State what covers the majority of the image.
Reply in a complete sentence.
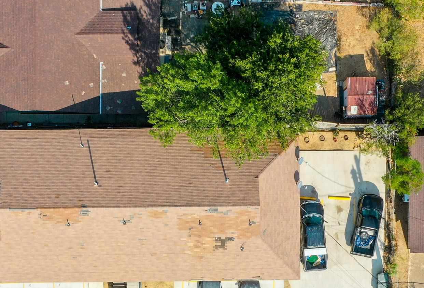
What you mostly see from above here is buildings.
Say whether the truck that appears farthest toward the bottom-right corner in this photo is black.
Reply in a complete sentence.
Yes, the truck that appears farthest toward the bottom-right corner is indeed black.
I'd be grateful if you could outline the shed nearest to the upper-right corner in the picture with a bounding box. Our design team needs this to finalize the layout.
[343,77,377,118]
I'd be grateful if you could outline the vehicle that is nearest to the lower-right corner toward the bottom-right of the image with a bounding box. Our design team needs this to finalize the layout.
[349,192,384,259]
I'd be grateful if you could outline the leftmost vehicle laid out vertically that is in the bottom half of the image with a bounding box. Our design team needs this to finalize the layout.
[300,200,329,265]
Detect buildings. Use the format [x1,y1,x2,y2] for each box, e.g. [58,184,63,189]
[343,77,377,118]
[0,129,325,283]
[0,0,161,114]
[401,135,424,253]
